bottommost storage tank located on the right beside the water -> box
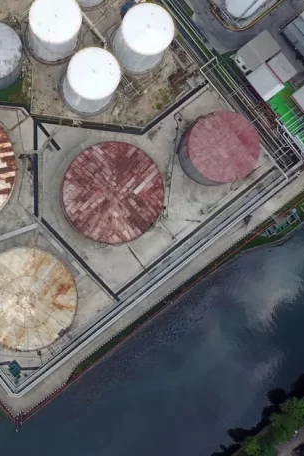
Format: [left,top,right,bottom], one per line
[175,111,262,190]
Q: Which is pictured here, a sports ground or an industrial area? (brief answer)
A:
industrial area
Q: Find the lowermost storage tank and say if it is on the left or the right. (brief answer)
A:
left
